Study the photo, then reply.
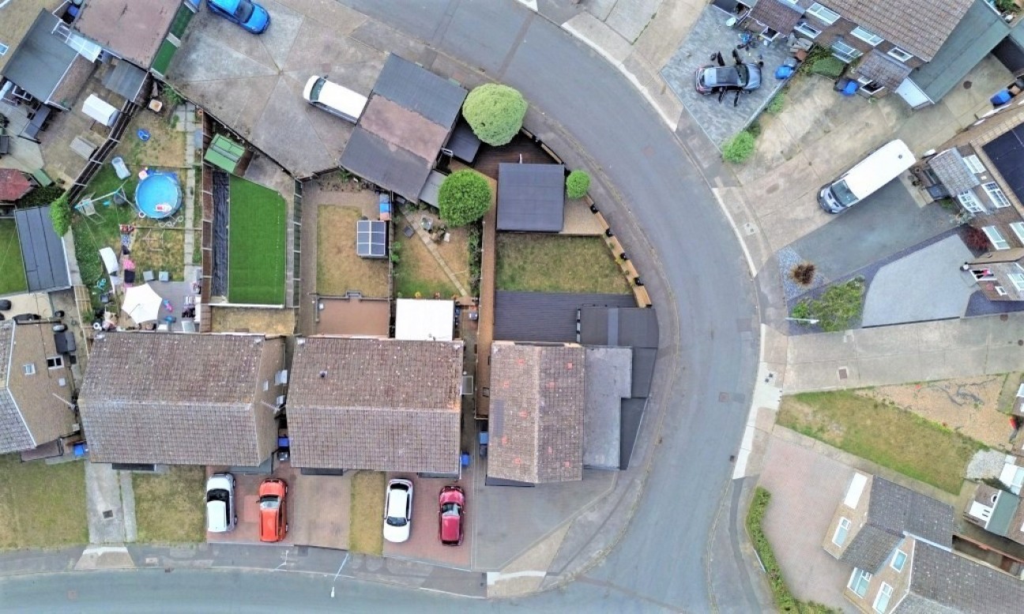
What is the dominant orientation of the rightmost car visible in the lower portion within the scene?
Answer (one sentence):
What the image shows is the rightmost car visible in the lower portion lying vertically.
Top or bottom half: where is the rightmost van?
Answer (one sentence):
The top half of the photo is where the rightmost van is.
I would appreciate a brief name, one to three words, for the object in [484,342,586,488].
house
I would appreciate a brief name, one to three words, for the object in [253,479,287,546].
car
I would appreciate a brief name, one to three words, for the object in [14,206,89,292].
shed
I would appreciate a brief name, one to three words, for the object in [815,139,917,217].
van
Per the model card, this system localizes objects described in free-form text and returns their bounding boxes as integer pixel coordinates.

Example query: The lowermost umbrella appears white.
[122,283,162,324]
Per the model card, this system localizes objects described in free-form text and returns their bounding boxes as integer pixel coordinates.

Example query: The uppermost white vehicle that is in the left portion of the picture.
[296,72,365,120]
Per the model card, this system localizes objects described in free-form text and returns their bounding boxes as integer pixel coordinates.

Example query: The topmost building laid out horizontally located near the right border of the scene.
[740,0,974,101]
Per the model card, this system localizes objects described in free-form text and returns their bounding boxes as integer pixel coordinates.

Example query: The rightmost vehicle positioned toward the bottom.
[436,486,467,549]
